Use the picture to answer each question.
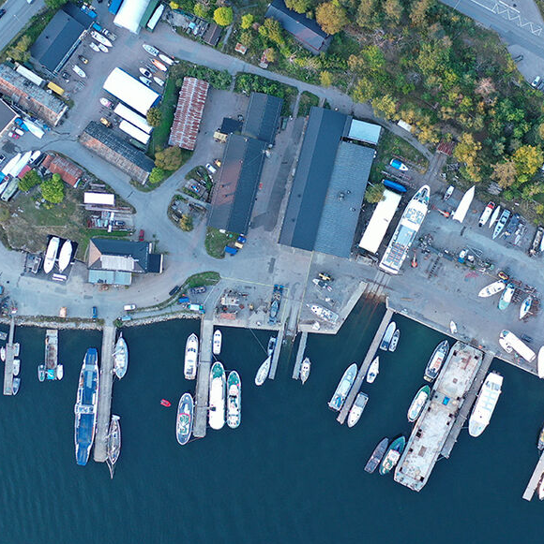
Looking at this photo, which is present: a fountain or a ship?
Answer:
ship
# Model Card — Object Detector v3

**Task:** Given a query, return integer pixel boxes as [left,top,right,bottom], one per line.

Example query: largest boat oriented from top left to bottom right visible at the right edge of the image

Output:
[502,331,541,366]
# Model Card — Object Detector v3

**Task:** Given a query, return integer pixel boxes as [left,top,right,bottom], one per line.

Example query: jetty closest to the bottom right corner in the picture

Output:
[523,449,544,501]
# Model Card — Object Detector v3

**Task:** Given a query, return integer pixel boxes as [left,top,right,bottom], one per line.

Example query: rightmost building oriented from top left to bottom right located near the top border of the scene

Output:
[265,0,331,54]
